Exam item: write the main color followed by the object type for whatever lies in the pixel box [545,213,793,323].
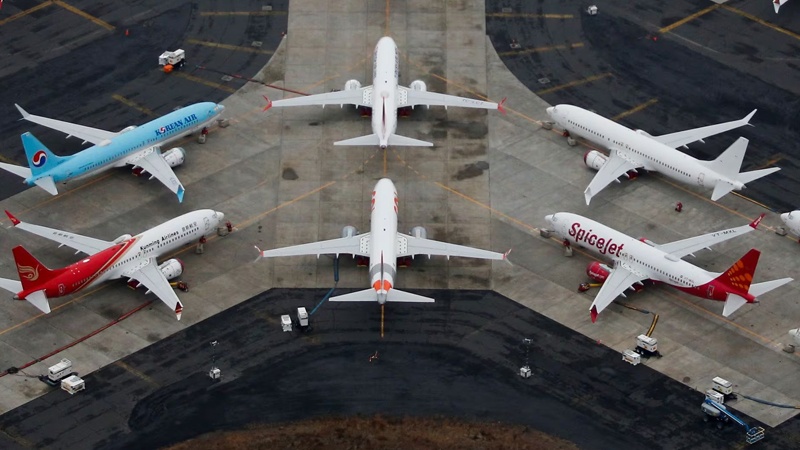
white airplane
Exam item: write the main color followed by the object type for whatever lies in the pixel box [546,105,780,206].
white airplane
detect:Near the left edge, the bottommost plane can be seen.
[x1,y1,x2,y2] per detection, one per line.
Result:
[0,210,225,320]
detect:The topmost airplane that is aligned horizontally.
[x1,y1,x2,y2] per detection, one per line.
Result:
[262,38,506,149]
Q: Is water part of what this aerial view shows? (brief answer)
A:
No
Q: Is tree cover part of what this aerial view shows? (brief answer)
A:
No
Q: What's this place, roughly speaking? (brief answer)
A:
airport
